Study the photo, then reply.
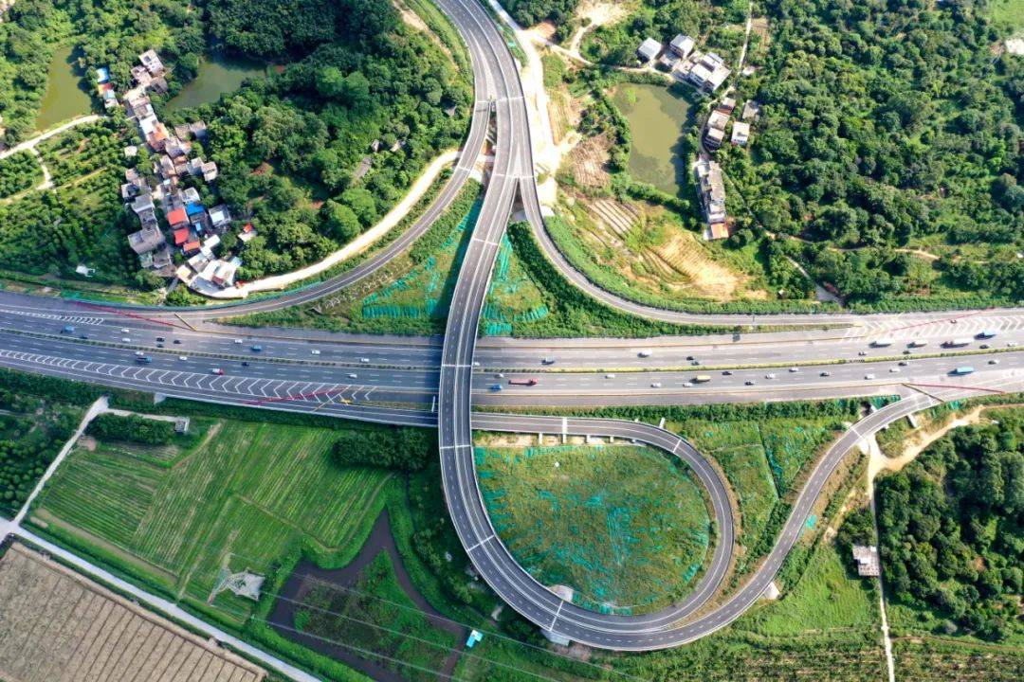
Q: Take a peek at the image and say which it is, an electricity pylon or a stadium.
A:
electricity pylon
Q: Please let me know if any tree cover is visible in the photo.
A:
Yes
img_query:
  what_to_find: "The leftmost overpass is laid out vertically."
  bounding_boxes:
[439,99,669,651]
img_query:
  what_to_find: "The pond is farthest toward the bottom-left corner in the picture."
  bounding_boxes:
[265,504,467,682]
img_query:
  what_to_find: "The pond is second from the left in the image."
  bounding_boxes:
[165,54,265,112]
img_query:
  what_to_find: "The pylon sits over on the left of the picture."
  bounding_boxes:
[210,557,260,608]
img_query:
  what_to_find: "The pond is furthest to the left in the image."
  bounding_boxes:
[35,47,93,132]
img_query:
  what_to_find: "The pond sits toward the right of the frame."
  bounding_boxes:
[607,81,693,199]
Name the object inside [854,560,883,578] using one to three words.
house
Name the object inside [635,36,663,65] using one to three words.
house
